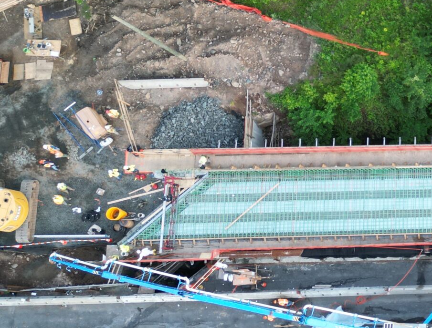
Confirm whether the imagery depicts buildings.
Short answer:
No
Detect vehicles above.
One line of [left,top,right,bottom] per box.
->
[0,180,43,243]
[47,253,432,328]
